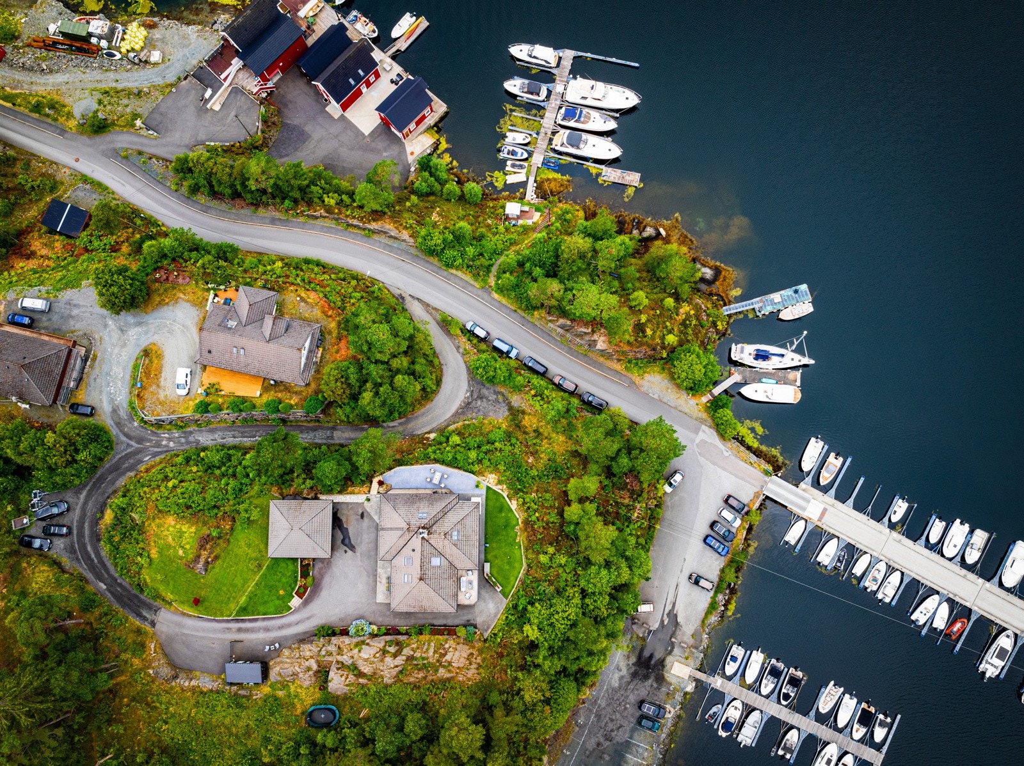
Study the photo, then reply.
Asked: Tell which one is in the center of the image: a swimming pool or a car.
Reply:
car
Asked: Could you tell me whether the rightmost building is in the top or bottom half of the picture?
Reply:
top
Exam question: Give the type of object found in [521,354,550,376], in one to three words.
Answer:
car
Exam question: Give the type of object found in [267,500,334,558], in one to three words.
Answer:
building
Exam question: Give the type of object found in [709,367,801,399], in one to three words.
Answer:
pier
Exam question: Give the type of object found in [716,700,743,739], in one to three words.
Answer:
boat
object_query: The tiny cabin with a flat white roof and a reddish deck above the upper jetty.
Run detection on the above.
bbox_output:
[505,202,541,225]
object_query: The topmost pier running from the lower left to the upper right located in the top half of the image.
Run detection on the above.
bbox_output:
[388,16,430,54]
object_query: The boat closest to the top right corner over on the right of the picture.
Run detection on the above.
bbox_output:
[778,299,815,318]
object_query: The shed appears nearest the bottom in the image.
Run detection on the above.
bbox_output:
[226,662,265,683]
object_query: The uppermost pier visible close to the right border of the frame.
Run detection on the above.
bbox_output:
[763,446,1024,690]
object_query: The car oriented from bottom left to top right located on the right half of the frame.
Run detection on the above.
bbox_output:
[662,467,687,495]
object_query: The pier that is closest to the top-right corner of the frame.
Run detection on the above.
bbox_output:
[725,284,812,316]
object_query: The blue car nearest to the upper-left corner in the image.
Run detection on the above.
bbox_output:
[5,312,36,327]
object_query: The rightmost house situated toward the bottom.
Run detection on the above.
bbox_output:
[378,489,481,613]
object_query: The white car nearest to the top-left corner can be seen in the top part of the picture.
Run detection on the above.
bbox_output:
[18,297,51,312]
